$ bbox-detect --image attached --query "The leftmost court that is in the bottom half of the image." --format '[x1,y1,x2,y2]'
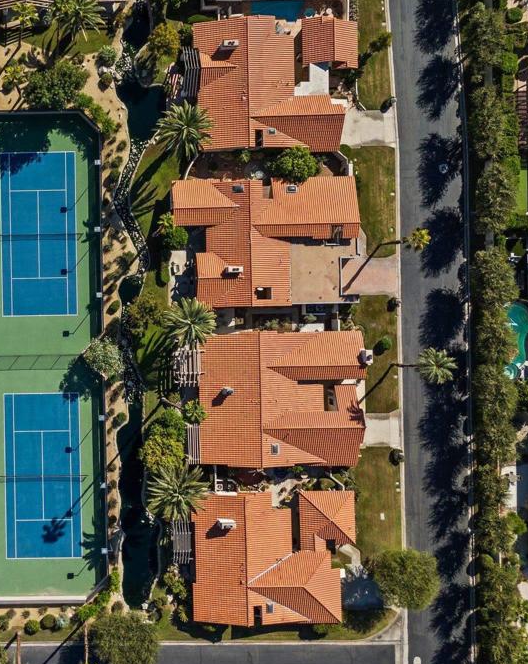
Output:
[0,393,87,559]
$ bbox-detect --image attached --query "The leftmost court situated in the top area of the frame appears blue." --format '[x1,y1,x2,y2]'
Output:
[0,151,83,317]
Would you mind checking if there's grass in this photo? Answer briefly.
Yes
